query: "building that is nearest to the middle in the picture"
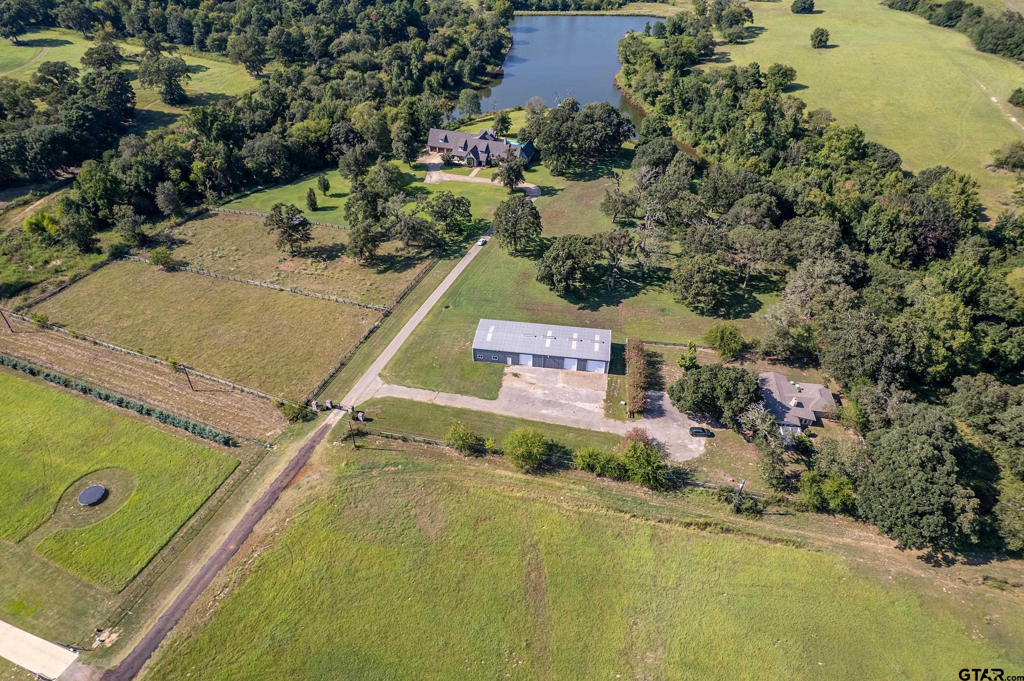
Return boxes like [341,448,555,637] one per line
[472,318,612,374]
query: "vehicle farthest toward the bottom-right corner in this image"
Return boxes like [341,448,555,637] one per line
[690,426,712,438]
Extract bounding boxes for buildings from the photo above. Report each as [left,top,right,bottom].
[472,318,612,374]
[428,124,538,168]
[758,375,837,432]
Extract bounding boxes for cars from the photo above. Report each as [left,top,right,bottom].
[690,426,712,438]
[475,236,485,245]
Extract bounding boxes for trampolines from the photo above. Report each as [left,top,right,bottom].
[77,485,106,507]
